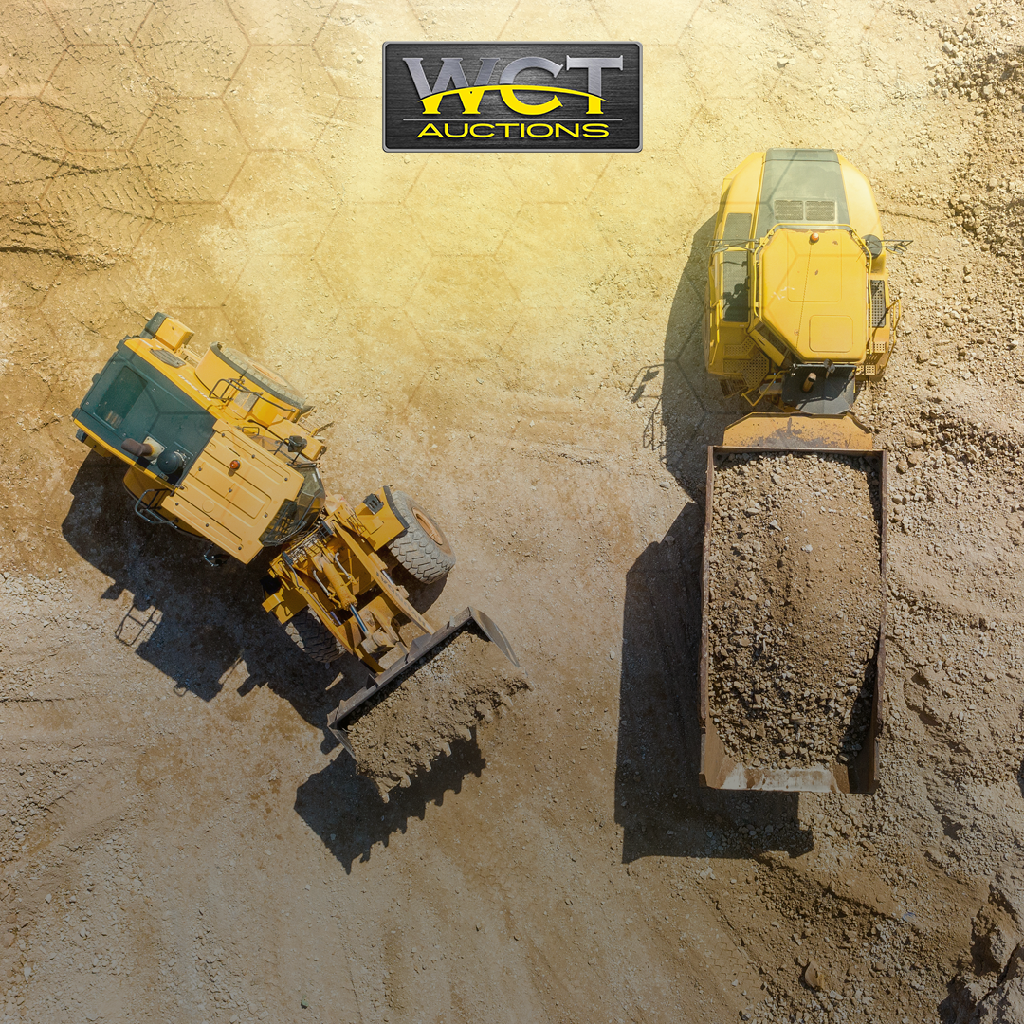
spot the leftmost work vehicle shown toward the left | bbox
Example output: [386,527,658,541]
[61,307,534,803]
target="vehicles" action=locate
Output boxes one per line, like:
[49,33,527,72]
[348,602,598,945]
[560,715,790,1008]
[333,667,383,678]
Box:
[61,307,534,803]
[698,144,912,801]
